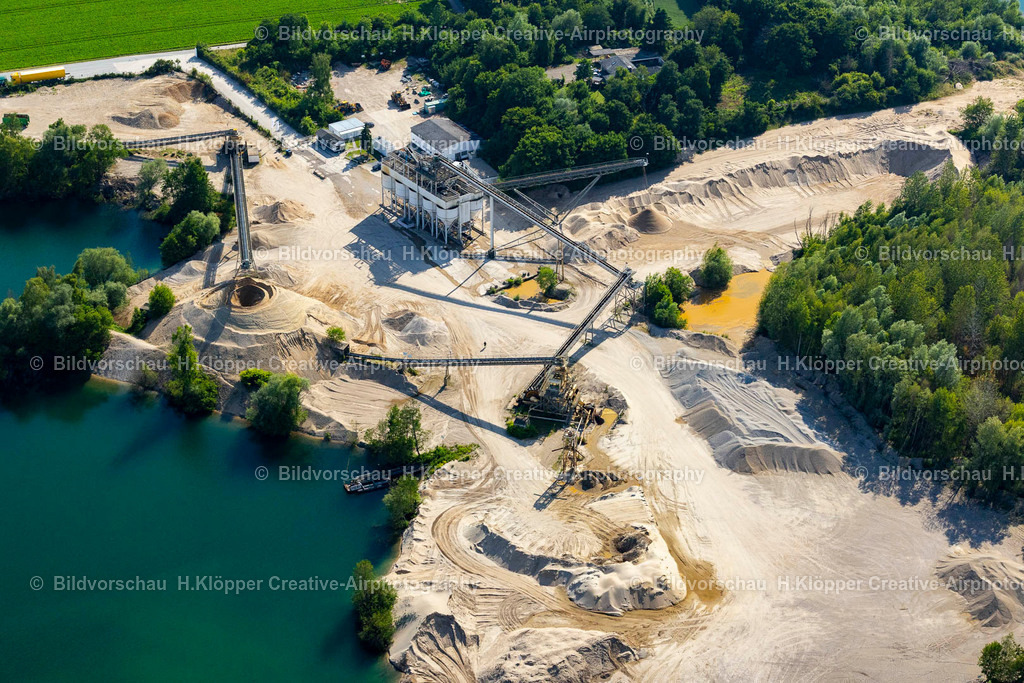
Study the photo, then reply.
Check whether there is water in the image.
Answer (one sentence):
Yes, water can be seen from above here.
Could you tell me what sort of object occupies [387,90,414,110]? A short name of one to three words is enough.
work vehicle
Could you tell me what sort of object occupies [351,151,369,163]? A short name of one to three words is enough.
vehicle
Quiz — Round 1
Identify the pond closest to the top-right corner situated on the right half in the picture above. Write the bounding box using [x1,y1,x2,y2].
[680,276,779,352]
